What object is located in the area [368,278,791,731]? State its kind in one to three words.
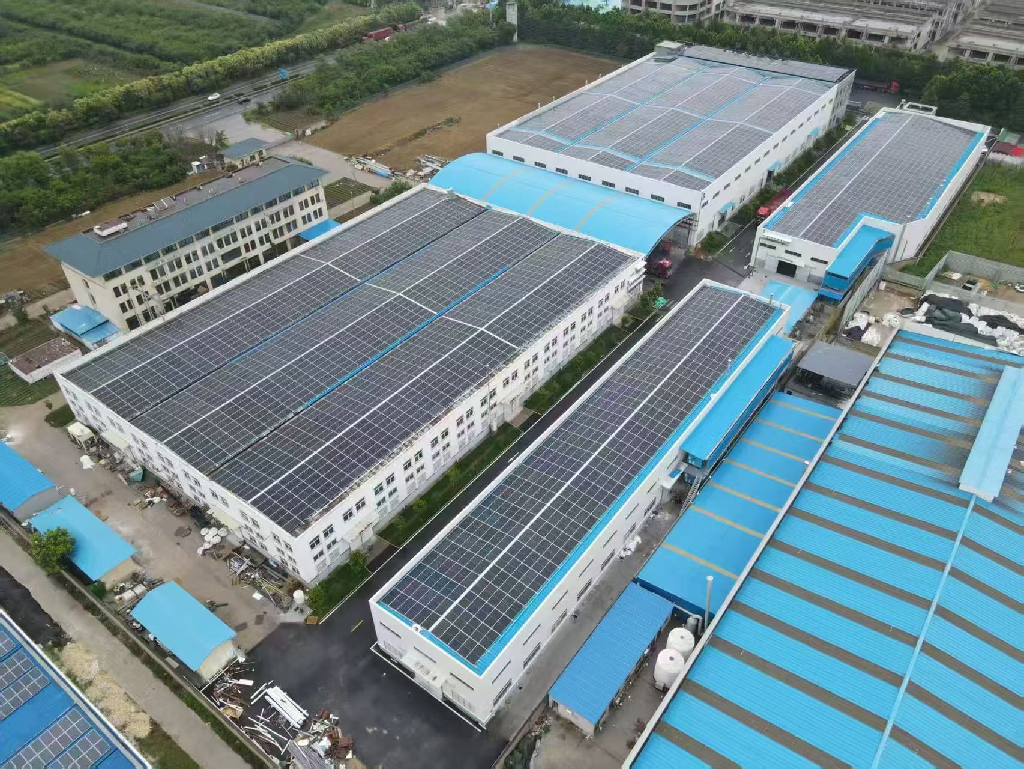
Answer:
building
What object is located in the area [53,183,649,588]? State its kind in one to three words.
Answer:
building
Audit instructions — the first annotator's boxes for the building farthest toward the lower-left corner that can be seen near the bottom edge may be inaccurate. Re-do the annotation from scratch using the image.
[0,611,152,769]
